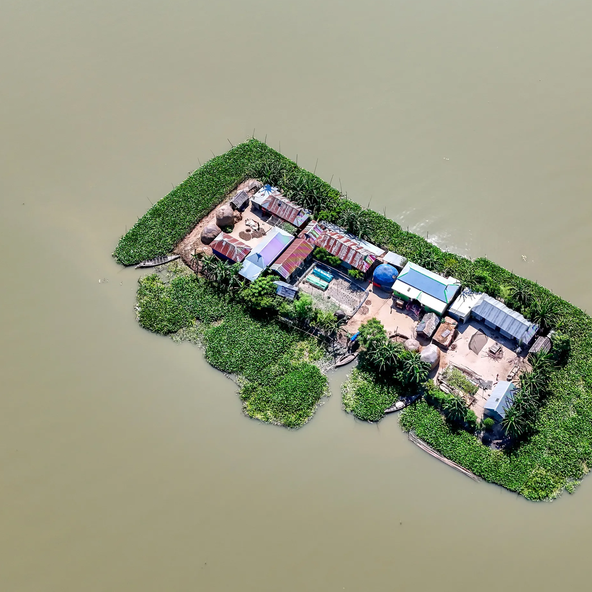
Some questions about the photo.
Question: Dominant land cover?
water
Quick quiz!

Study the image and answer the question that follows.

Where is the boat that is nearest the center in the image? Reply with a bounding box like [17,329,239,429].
[335,351,359,366]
